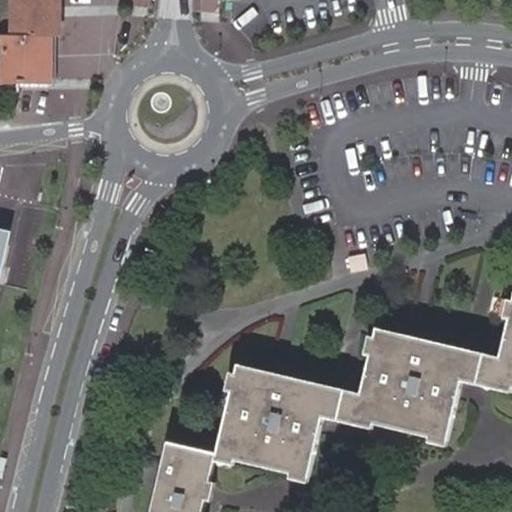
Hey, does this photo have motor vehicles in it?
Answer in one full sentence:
Yes, there is a motor vehicle in the image.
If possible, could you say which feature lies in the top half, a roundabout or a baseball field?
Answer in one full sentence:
It is a roundabout that can be seen in the top half.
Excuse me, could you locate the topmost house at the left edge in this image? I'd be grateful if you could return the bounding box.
[8,0,62,34]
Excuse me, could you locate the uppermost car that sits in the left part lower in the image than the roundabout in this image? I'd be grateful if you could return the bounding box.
[112,238,127,262]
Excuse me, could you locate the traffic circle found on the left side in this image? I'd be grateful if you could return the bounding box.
[108,54,228,174]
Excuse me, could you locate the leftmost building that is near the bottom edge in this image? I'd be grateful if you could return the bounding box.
[149,442,215,512]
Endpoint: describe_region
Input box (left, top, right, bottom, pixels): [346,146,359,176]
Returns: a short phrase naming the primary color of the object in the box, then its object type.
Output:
white vehicle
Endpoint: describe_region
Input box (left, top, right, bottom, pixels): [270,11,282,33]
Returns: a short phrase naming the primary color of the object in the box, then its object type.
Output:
white vehicle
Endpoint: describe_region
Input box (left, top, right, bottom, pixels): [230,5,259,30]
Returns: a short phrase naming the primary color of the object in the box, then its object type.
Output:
white truck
